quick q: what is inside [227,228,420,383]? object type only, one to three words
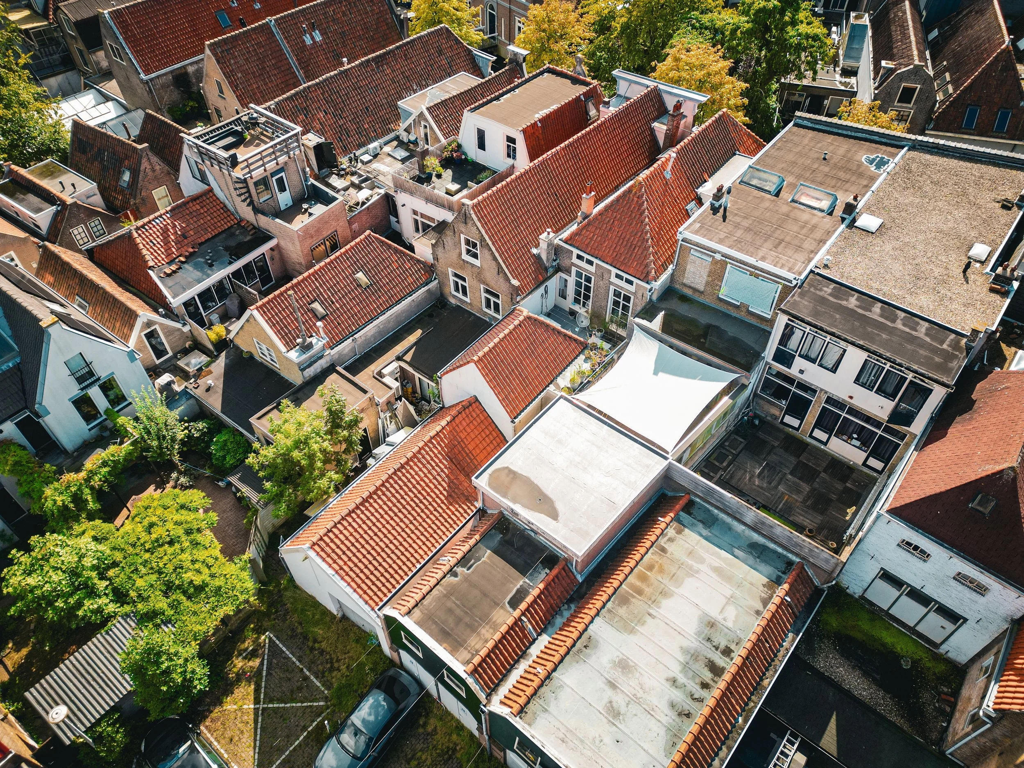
house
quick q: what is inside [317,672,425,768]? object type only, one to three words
car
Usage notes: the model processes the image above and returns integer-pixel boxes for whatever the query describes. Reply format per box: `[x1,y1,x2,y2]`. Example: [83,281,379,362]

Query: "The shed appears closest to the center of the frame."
[432,307,583,443]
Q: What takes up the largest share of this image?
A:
buildings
